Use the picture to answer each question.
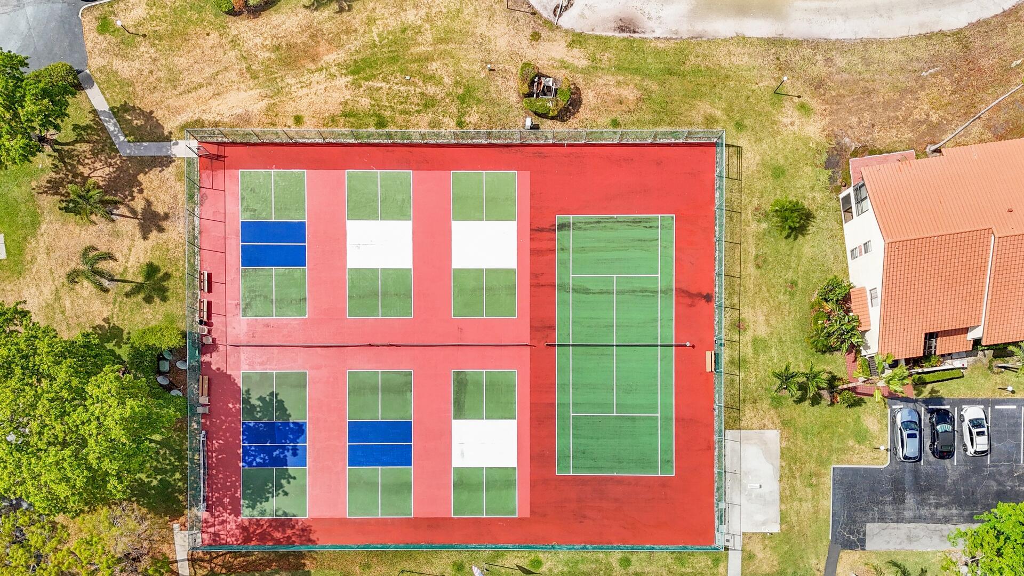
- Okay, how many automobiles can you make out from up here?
3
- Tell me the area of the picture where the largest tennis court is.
center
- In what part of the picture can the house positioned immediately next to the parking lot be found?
right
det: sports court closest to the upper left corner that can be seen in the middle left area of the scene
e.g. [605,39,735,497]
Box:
[239,170,307,318]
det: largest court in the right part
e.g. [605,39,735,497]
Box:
[556,214,675,476]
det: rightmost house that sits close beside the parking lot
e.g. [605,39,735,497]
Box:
[840,137,1024,366]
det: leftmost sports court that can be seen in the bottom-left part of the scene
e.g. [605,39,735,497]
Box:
[241,371,308,518]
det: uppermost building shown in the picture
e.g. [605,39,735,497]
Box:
[534,75,555,99]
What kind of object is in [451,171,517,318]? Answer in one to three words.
sports court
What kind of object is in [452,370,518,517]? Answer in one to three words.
sports court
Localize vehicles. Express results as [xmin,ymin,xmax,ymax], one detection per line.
[931,410,958,458]
[963,406,993,457]
[894,408,922,463]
